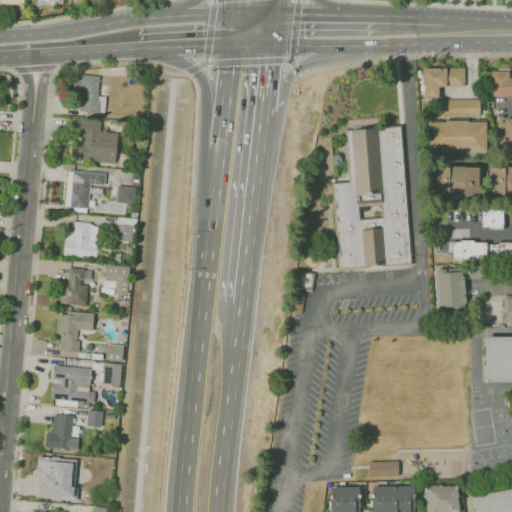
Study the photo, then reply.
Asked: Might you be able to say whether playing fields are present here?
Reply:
Yes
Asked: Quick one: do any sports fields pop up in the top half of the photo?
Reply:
No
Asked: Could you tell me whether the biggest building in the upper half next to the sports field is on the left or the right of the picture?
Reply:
right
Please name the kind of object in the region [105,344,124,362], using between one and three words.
building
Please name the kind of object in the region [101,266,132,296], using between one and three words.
shed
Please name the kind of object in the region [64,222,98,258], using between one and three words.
house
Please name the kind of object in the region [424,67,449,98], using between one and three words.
building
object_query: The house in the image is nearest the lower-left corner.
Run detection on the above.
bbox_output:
[36,456,80,504]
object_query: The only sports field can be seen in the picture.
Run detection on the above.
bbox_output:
[353,332,472,476]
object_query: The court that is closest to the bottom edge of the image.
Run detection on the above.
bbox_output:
[473,442,512,477]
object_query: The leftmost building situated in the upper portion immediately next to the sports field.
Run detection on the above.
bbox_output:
[335,126,414,269]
